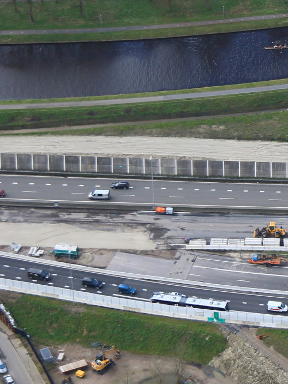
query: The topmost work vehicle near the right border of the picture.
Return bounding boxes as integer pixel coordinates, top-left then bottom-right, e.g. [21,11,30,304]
[251,222,285,238]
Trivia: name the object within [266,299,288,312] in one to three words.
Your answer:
vehicle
